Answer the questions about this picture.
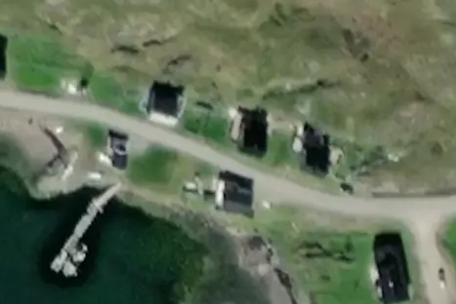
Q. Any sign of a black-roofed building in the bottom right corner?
Yes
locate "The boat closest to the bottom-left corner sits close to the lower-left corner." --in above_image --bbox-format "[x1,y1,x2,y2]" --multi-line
[64,262,78,278]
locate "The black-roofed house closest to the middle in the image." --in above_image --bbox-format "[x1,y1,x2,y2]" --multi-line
[237,127,267,157]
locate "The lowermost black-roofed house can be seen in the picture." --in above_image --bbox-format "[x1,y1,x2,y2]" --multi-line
[374,240,409,304]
